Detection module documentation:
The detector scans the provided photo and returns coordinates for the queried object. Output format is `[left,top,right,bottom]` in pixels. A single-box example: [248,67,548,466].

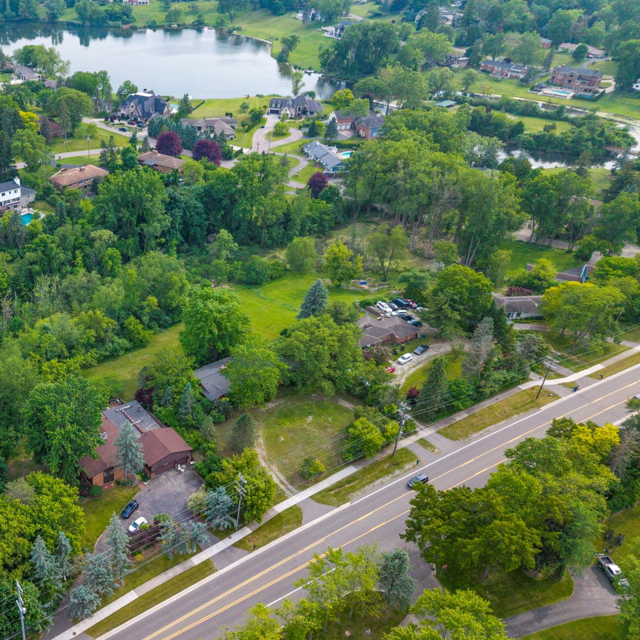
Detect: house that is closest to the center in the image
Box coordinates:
[338,312,419,359]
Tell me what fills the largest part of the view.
trees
